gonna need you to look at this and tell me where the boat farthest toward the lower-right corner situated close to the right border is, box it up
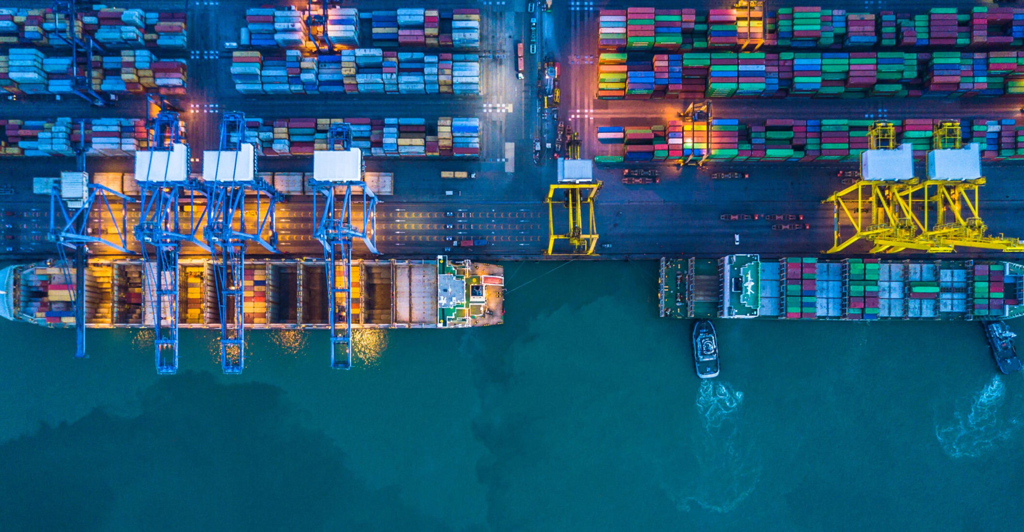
[983,319,1024,378]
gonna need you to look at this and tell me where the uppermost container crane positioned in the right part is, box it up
[735,0,766,53]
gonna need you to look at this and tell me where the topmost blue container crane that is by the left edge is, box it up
[50,0,92,53]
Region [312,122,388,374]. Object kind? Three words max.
container crane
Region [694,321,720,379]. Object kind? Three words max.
boat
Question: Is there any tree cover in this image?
No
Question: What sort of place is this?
port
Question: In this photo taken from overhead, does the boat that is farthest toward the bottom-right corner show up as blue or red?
blue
